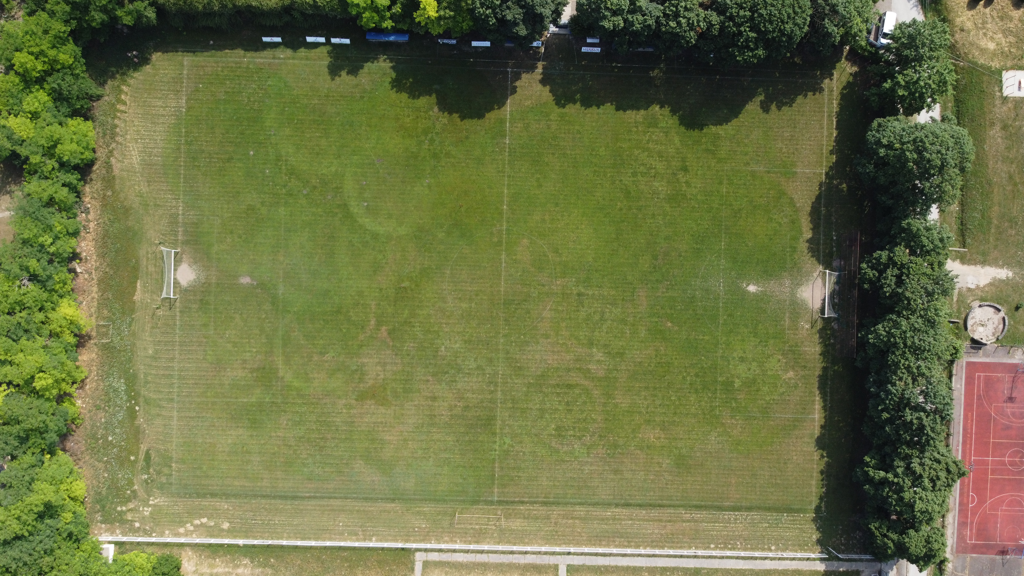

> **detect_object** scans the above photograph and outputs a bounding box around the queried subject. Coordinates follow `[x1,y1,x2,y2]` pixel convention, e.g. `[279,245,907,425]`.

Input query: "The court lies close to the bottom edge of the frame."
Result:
[943,346,1024,576]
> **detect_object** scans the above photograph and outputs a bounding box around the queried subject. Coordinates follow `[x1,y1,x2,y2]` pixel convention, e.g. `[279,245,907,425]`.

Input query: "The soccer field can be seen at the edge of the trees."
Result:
[142,42,836,520]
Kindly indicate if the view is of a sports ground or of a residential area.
sports ground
